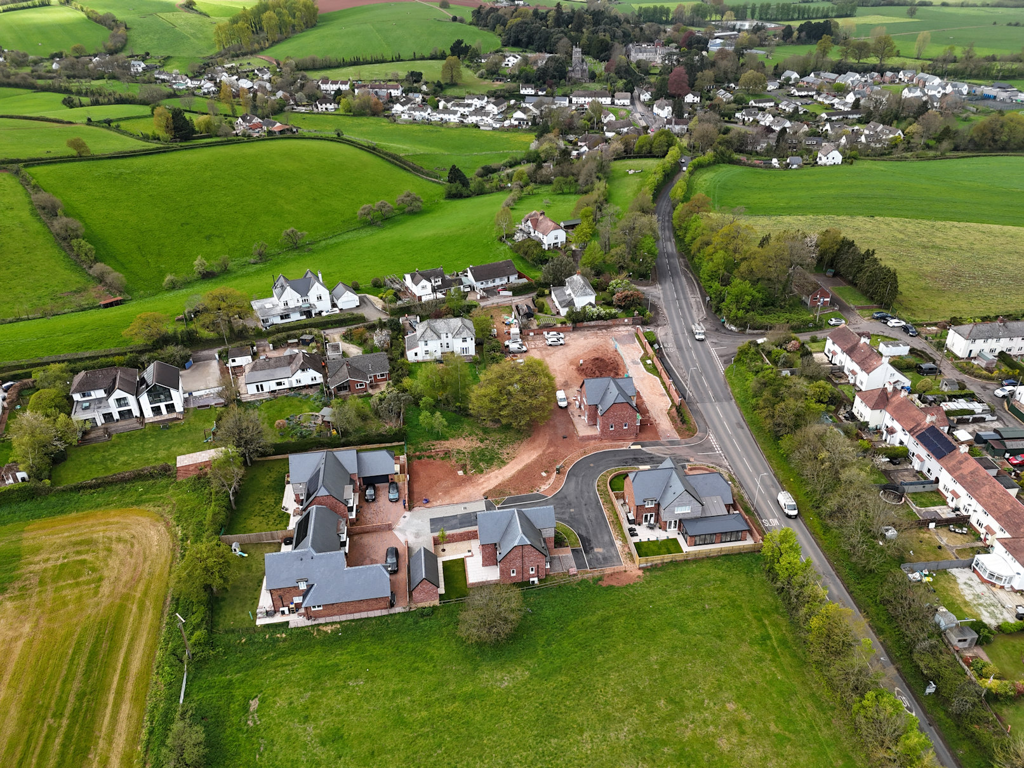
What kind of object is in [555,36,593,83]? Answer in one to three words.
building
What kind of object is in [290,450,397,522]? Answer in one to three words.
house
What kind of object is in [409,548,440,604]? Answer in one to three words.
building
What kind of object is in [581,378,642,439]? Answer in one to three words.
house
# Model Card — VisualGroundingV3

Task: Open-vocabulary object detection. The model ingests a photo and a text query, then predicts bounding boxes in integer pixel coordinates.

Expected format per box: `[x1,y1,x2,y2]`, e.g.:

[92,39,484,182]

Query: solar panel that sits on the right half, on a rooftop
[916,430,951,460]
